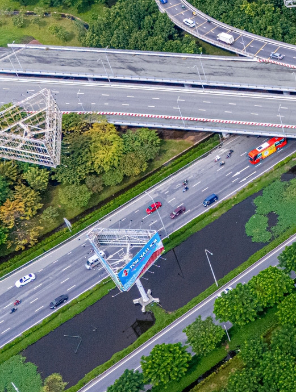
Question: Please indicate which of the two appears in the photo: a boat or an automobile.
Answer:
automobile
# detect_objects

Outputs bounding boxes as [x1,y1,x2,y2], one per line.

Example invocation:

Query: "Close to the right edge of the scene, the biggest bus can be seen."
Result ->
[246,136,289,167]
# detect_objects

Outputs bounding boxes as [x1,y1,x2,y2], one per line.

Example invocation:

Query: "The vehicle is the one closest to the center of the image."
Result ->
[145,200,164,214]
